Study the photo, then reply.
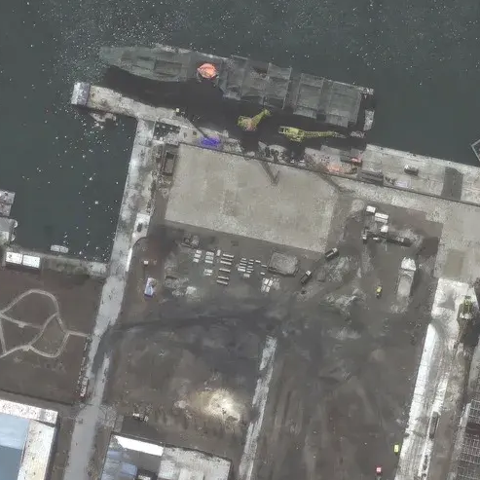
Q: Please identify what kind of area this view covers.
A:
port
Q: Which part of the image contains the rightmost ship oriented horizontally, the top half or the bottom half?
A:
top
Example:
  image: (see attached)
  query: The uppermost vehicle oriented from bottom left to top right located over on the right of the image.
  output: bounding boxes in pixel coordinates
[324,246,339,259]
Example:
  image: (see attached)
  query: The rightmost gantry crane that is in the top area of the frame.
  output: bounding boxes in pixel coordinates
[270,128,348,156]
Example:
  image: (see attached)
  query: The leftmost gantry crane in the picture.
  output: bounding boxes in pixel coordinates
[177,112,225,154]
